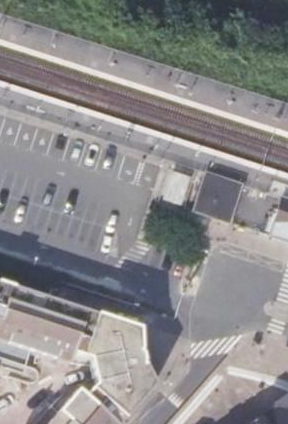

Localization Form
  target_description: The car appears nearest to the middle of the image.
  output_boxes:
[105,212,119,234]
